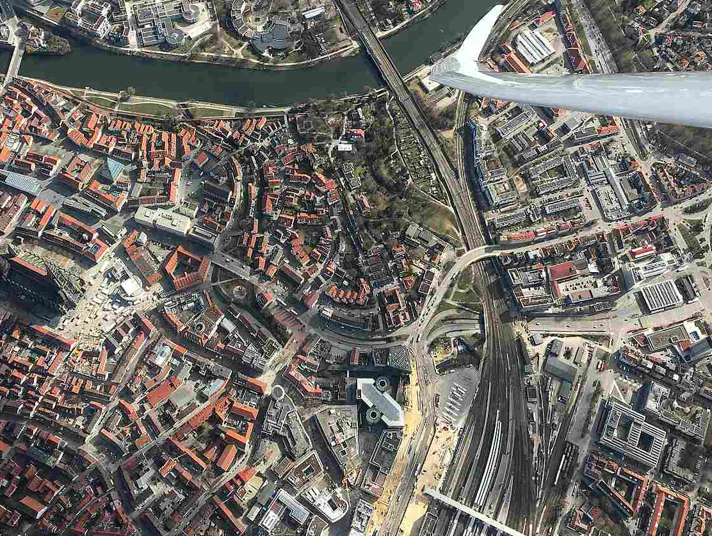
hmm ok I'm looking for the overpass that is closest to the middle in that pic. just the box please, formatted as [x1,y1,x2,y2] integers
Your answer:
[445,244,526,279]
